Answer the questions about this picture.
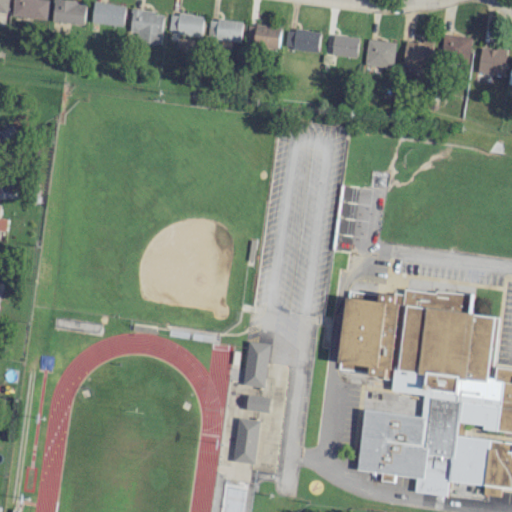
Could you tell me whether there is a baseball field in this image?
Yes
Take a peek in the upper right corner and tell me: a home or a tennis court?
home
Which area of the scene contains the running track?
bottom left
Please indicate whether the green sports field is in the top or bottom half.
bottom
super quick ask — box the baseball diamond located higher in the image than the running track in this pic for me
[139,218,234,320]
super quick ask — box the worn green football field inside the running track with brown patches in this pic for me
[58,356,201,512]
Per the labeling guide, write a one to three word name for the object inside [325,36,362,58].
house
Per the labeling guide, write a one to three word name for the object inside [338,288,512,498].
building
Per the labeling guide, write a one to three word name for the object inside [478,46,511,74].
house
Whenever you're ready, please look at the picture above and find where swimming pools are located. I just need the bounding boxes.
[5,369,18,383]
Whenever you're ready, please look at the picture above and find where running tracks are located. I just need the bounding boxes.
[36,334,233,512]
